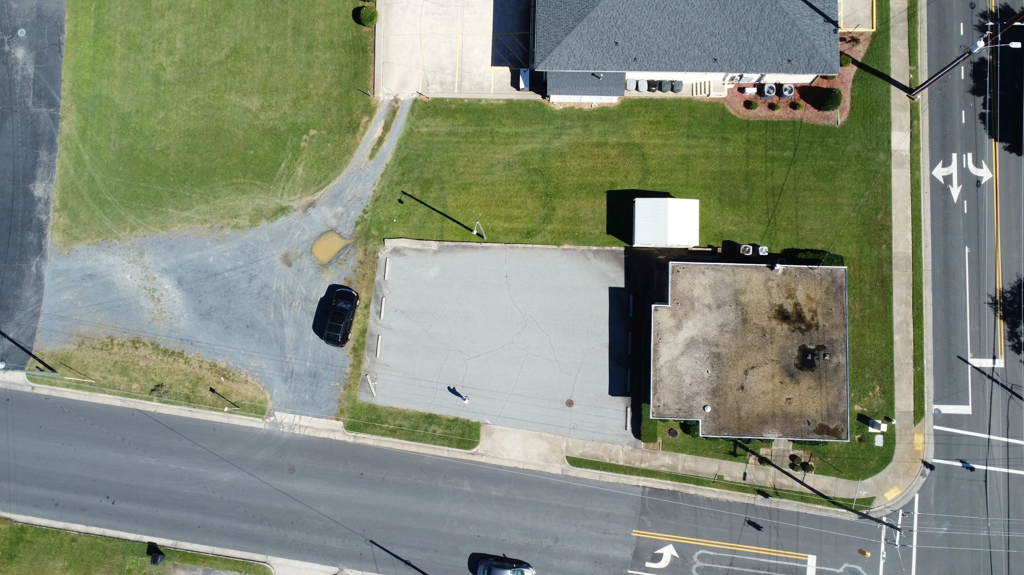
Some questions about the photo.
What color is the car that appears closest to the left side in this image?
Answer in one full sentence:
In this view, the car that appears closest to the left side is black.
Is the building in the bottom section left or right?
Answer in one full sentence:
You can find the building in the bottom section on the right side of the picture.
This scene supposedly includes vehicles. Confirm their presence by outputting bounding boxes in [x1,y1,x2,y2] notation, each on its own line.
[319,285,357,349]
[476,558,538,575]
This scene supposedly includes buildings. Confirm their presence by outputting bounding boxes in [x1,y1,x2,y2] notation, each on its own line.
[633,196,699,248]
[648,262,849,441]
[534,0,841,84]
